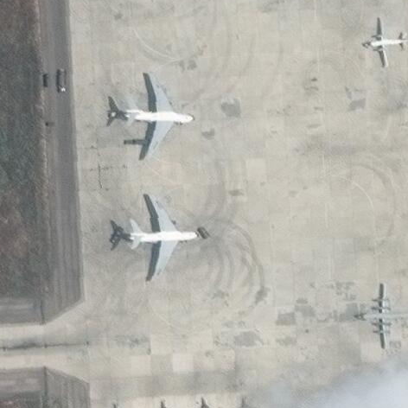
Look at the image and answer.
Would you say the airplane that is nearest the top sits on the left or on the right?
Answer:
right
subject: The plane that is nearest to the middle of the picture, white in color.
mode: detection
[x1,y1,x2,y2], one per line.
[120,192,196,279]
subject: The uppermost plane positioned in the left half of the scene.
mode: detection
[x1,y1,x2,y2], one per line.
[117,73,193,159]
